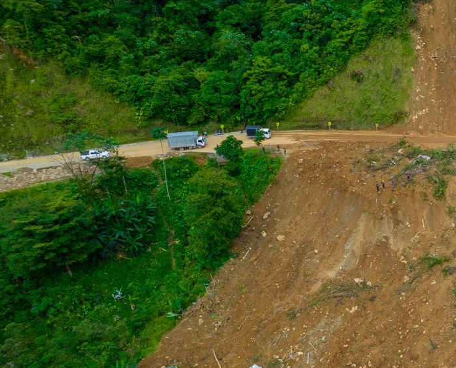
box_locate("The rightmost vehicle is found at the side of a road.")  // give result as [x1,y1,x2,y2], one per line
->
[242,125,272,140]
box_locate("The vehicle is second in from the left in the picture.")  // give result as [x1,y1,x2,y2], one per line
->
[164,132,206,151]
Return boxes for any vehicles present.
[242,125,272,140]
[164,132,206,151]
[78,147,110,160]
